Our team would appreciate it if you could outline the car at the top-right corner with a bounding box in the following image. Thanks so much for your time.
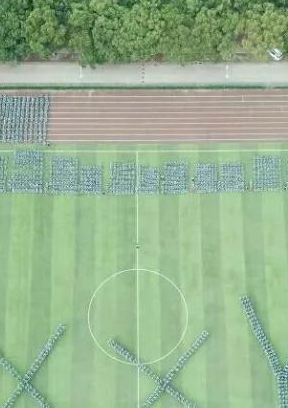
[265,44,285,60]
